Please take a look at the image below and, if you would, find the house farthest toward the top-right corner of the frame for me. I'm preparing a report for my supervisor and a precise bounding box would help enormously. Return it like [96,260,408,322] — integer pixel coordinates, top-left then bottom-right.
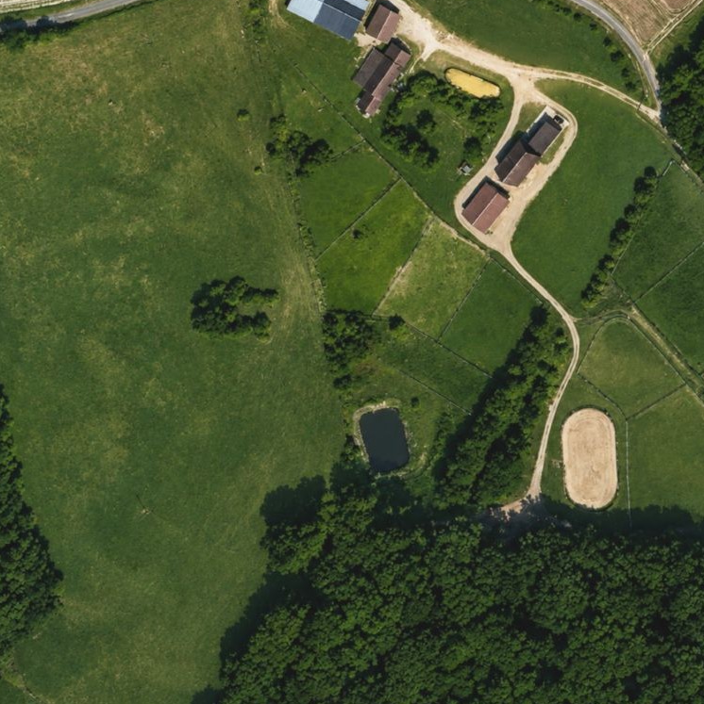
[494,122,561,186]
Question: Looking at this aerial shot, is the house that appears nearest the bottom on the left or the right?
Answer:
right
